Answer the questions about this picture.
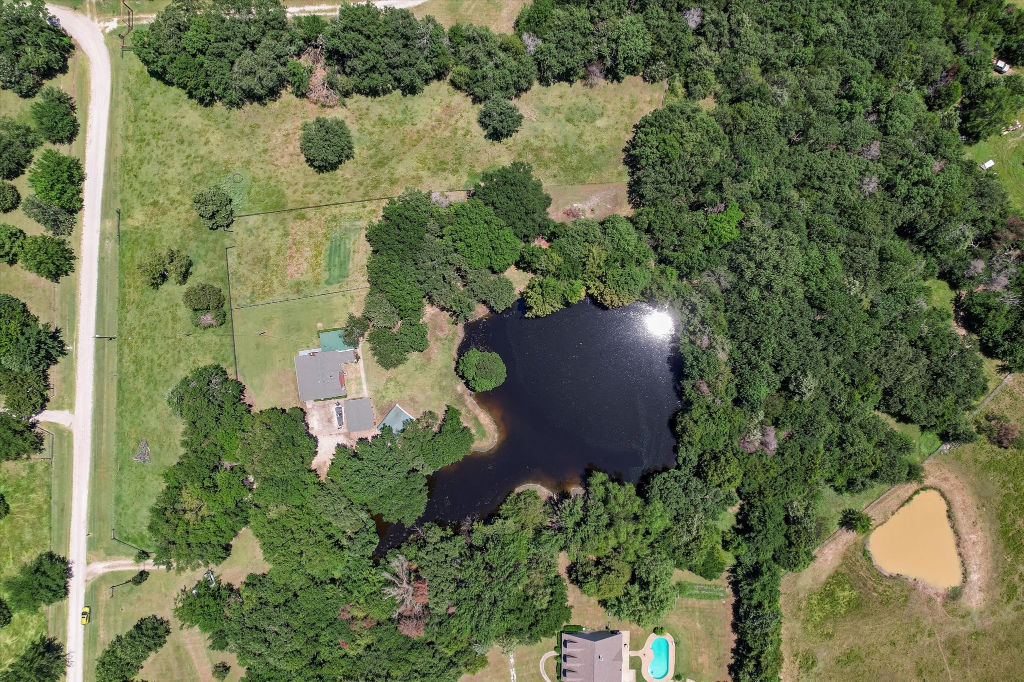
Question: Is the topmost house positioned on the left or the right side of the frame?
left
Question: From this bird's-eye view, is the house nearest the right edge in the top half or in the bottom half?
bottom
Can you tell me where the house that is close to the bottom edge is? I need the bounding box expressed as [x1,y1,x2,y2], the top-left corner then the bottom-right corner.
[561,625,624,682]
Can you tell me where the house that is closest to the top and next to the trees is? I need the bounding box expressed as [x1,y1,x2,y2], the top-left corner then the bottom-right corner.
[294,331,357,402]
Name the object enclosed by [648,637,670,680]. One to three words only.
swimming pool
